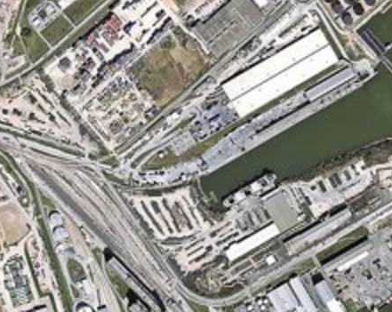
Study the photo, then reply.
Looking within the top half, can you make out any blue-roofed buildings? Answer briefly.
No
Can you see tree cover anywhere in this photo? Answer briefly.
No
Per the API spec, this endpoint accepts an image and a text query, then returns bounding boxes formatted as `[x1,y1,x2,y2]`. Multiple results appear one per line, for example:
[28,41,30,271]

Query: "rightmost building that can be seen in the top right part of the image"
[306,58,372,102]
